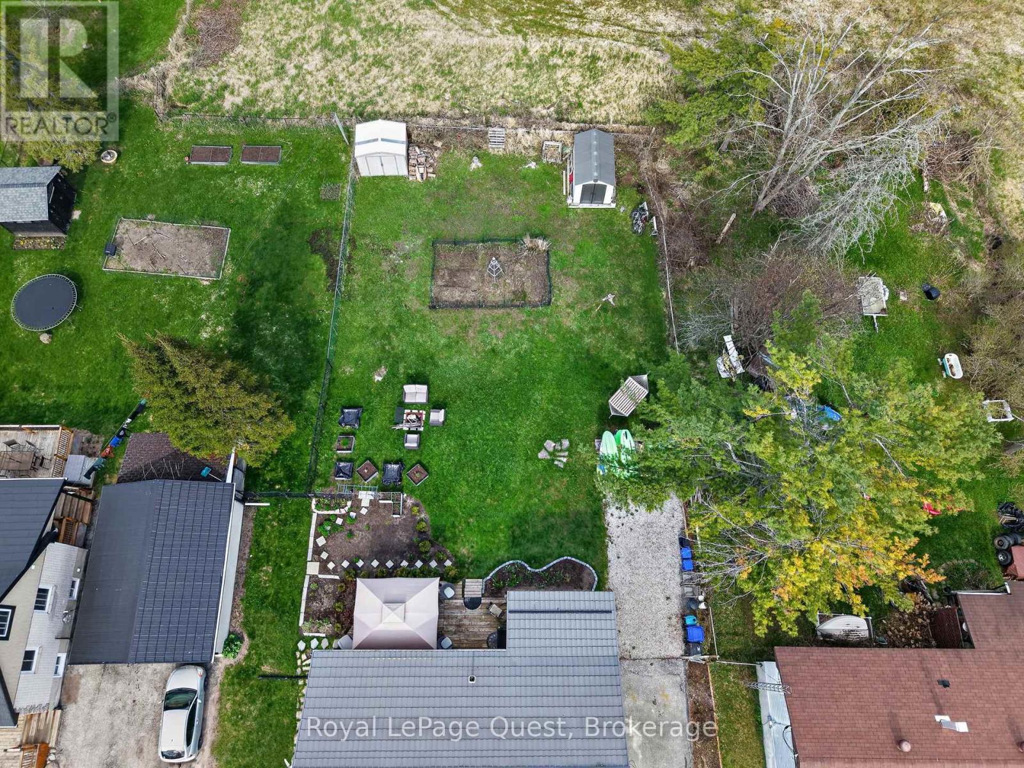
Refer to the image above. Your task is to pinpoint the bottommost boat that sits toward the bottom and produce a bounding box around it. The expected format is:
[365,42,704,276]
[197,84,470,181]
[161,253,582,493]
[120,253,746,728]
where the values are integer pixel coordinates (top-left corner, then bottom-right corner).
[814,611,870,641]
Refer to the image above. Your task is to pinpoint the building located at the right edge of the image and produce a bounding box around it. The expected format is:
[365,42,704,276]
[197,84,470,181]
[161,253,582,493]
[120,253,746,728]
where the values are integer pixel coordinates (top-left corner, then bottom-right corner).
[756,581,1024,768]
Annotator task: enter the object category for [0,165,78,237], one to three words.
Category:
shed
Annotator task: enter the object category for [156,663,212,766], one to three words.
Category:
car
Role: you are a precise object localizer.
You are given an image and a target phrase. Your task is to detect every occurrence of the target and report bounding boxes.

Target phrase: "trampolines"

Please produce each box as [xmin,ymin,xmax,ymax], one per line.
[8,272,89,342]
